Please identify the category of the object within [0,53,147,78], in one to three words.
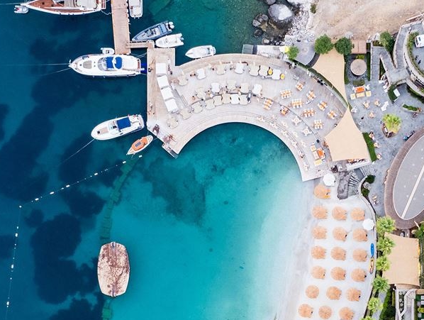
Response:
boat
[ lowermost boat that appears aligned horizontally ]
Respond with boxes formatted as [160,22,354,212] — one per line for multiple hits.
[85,114,147,143]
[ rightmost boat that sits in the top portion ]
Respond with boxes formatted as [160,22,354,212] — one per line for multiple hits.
[186,44,216,58]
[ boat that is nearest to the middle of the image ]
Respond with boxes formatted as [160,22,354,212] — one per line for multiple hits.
[128,137,153,154]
